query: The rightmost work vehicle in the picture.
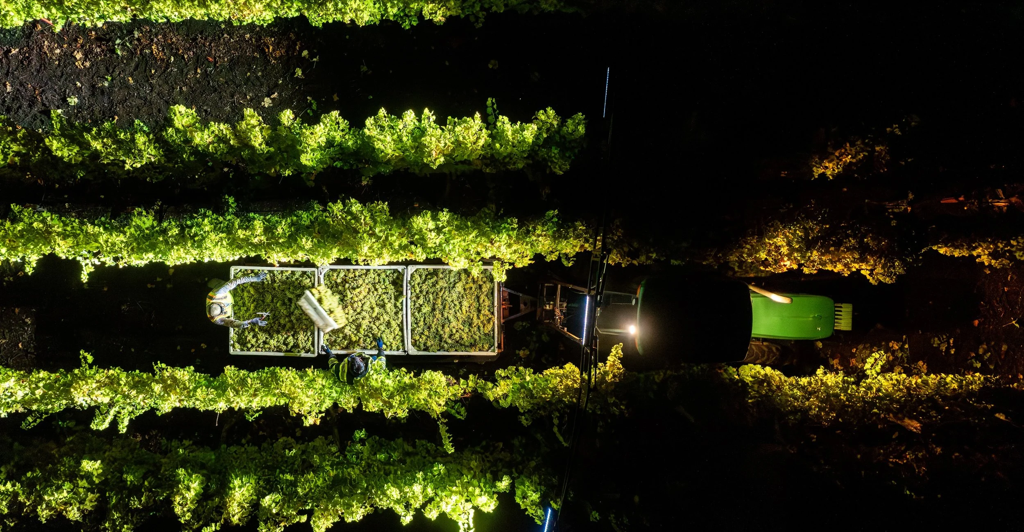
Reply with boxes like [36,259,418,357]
[582,262,851,369]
